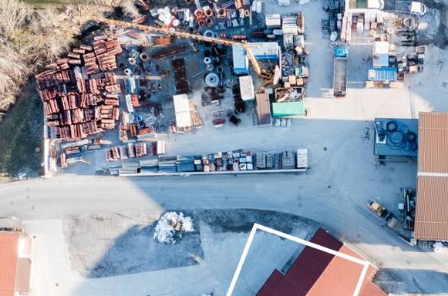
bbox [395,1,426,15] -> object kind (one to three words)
vehicle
